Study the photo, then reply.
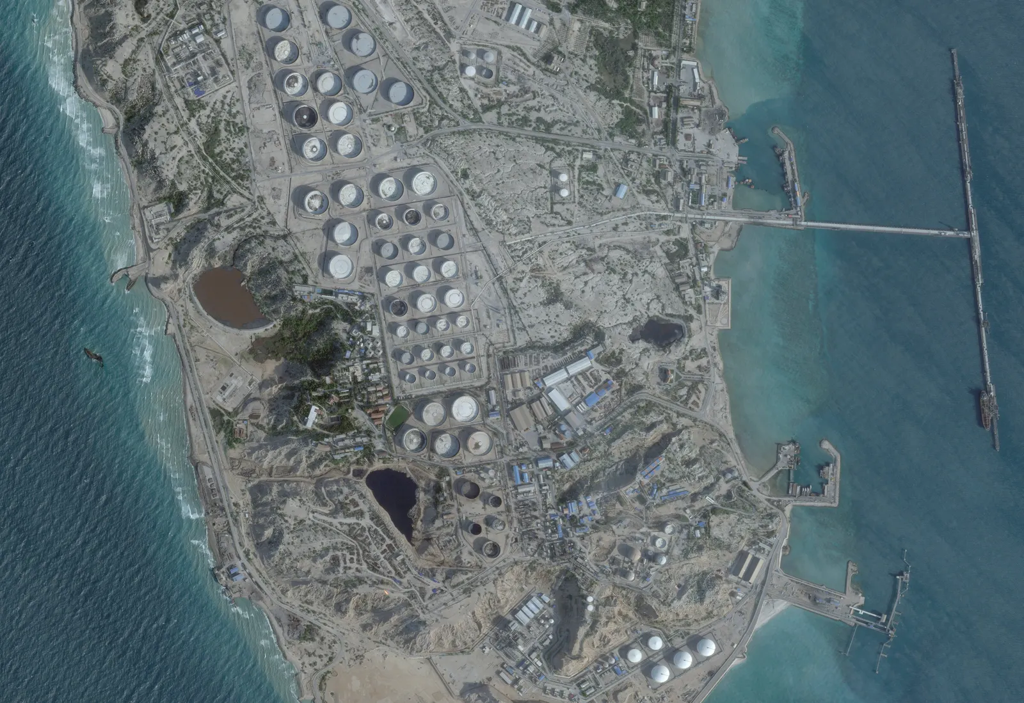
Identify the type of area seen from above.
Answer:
port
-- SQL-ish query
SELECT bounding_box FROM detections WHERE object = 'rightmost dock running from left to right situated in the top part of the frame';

[802,220,972,238]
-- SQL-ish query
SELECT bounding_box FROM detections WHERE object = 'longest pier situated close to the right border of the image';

[952,49,1000,450]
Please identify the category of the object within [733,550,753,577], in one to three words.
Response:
building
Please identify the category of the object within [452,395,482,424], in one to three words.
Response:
storage tank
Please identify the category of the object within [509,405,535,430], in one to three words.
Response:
building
